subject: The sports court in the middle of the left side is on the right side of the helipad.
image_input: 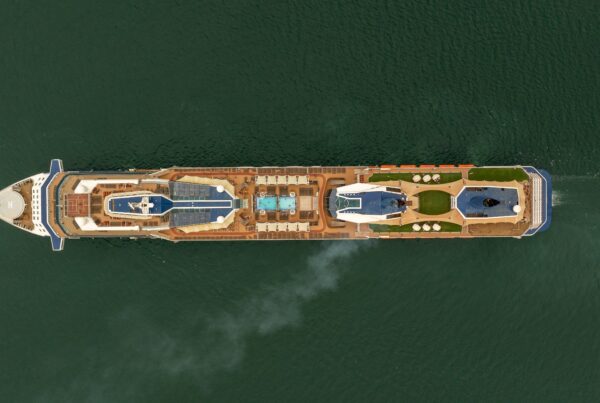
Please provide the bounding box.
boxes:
[63,193,90,217]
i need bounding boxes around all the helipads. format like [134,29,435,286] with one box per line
[0,190,25,218]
